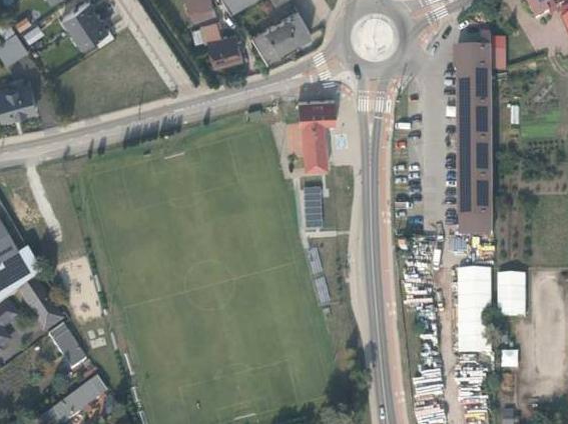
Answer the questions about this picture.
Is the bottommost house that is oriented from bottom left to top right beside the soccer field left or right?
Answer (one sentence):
It is on the left.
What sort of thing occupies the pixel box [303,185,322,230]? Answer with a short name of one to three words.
building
